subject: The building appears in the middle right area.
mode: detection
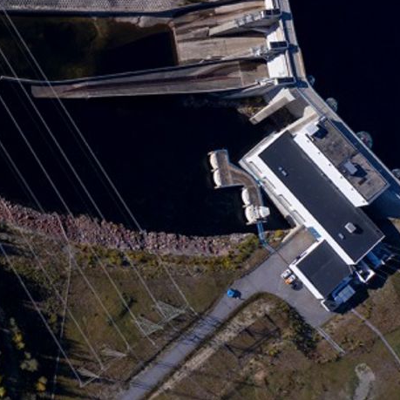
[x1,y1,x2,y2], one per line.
[237,115,390,311]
